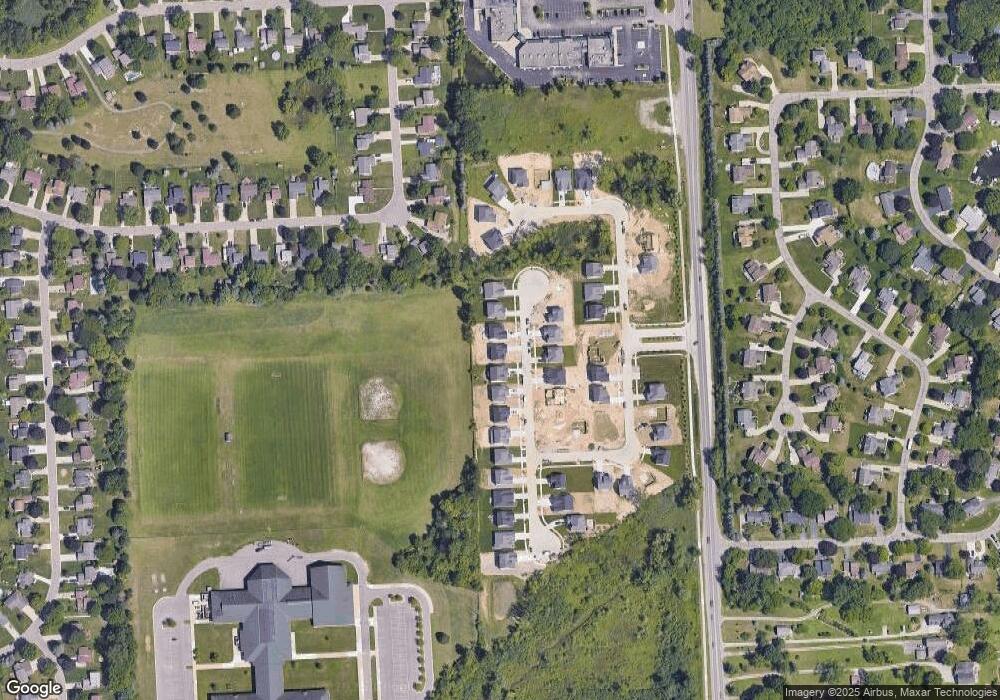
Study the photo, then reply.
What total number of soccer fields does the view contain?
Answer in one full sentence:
The picture shows 2 soccer fields.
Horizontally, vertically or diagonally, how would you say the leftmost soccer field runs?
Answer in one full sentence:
The leftmost soccer field is oriented vertically.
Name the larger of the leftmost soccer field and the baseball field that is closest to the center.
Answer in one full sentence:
The soccer field takes up more space than the baseball field does.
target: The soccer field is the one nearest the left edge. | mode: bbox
[134,356,215,519]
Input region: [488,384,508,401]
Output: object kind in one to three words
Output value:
house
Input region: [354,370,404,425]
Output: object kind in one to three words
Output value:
baseball field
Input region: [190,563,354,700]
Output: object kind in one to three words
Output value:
building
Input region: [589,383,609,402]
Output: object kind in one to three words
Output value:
house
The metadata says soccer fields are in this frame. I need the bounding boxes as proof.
[134,356,215,519]
[233,354,338,512]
